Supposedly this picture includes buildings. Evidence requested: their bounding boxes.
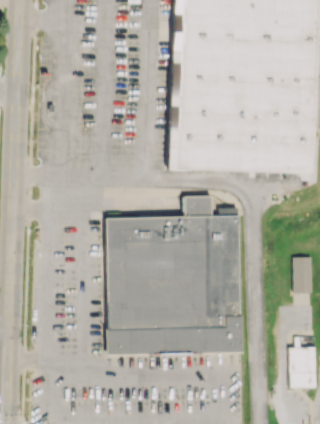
[288,336,316,390]
[292,257,312,293]
[106,195,242,356]
[168,0,320,183]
